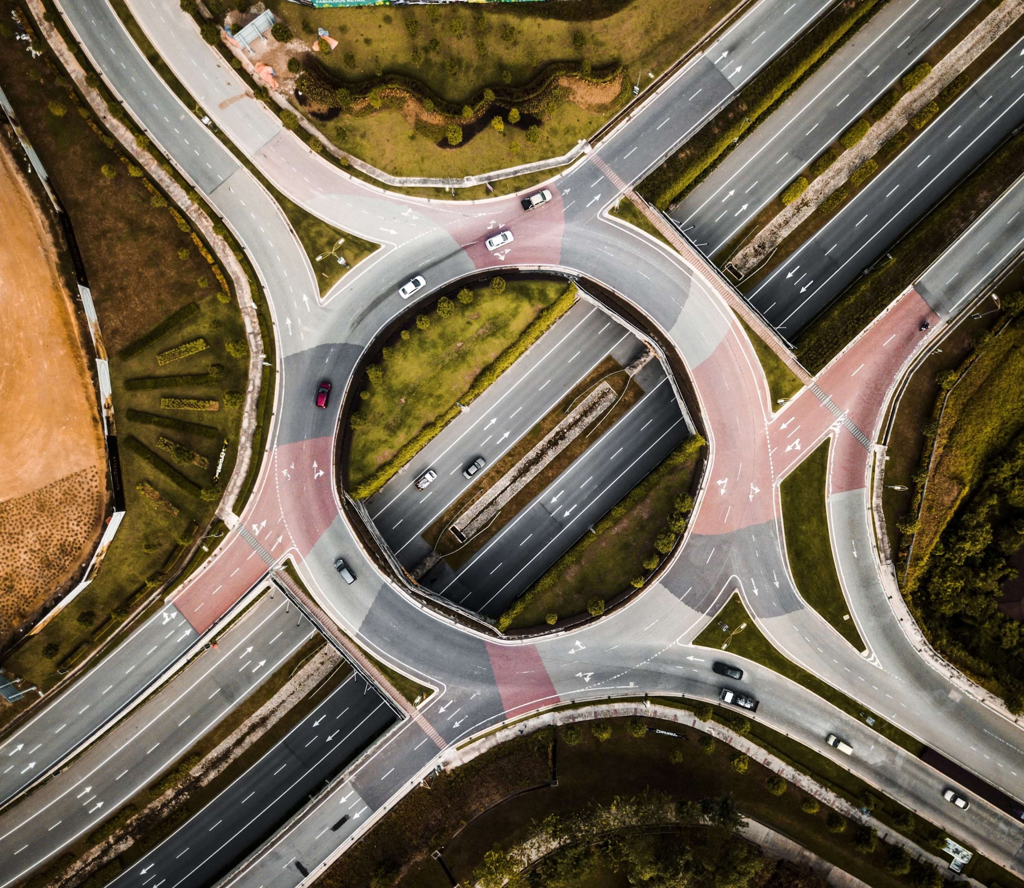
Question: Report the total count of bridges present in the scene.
2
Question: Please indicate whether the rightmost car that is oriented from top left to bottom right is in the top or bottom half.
bottom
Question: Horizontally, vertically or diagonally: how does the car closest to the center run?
diagonally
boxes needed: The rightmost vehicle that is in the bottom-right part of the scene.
[944,791,970,812]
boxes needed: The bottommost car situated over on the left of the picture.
[334,559,357,586]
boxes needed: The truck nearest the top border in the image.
[520,190,553,211]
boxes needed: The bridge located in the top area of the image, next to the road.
[570,182,820,434]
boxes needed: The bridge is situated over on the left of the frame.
[269,489,504,723]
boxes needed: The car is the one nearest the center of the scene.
[462,457,487,480]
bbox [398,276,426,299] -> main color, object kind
white car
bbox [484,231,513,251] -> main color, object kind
white car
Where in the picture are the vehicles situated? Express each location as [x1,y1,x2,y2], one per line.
[462,457,487,480]
[316,382,331,409]
[520,190,553,211]
[334,559,357,586]
[412,468,440,494]
[826,735,855,757]
[944,791,970,812]
[484,231,513,251]
[713,662,743,681]
[398,276,426,299]
[719,688,760,714]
